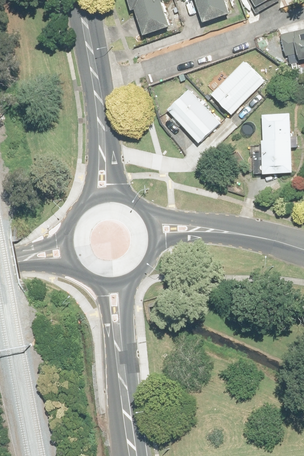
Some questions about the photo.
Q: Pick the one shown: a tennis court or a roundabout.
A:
roundabout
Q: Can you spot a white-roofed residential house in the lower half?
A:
No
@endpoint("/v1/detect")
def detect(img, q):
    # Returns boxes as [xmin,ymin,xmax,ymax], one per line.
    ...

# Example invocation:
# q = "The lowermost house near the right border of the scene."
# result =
[252,112,298,174]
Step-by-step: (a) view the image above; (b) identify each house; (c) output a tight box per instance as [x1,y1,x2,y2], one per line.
[251,0,279,14]
[194,0,228,22]
[128,0,168,34]
[280,30,304,62]
[210,60,266,114]
[167,89,222,144]
[252,112,298,174]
